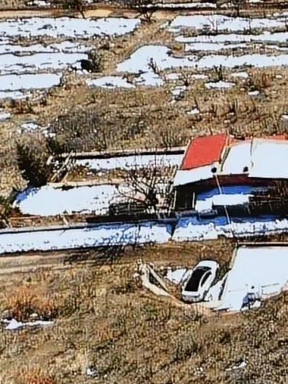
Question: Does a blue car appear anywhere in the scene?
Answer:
No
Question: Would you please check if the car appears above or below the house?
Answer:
below it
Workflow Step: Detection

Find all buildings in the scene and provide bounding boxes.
[173,132,288,207]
